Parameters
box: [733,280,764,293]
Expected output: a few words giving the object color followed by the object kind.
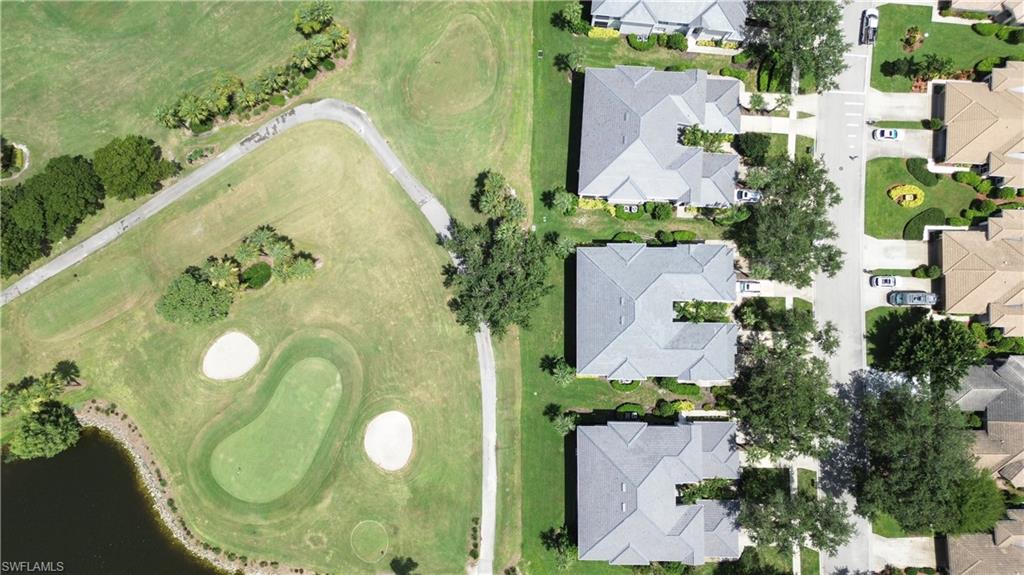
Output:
white vehicle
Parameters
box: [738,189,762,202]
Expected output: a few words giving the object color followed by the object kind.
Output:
white vehicle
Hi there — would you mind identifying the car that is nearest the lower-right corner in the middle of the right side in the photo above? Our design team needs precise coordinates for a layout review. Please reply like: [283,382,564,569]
[889,291,934,306]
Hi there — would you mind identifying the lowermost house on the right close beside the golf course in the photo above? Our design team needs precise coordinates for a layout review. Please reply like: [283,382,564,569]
[576,419,739,567]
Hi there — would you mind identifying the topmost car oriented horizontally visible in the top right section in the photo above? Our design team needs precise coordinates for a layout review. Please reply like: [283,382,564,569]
[875,126,904,139]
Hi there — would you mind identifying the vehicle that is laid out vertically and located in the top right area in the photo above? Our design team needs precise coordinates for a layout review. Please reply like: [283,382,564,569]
[860,8,879,45]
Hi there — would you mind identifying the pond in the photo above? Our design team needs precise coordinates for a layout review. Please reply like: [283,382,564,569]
[0,430,227,575]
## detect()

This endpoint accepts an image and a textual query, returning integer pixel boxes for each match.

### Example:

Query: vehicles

[860,8,879,45]
[738,189,762,202]
[868,275,897,288]
[889,291,934,306]
[875,126,904,139]
[733,280,764,293]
